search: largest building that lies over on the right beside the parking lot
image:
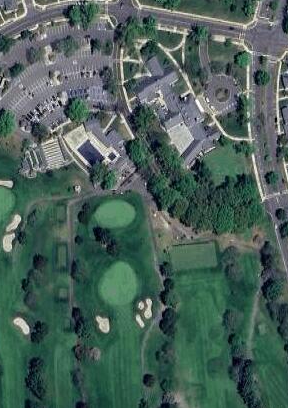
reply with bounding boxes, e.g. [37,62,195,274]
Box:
[161,78,218,167]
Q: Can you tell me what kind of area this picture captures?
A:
golf course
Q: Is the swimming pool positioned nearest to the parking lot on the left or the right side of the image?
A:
left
